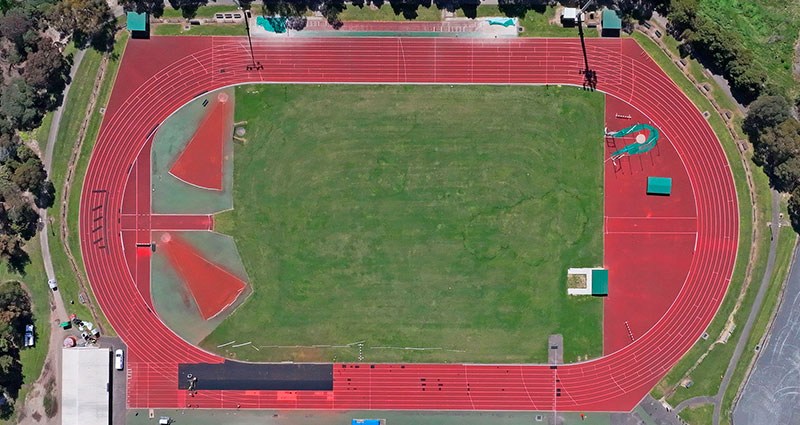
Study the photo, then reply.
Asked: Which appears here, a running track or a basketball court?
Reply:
running track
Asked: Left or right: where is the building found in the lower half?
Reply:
left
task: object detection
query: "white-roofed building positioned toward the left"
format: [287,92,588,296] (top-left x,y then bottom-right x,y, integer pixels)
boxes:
[61,347,112,425]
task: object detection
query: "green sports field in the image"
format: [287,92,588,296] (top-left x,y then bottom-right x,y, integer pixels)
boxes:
[200,83,604,364]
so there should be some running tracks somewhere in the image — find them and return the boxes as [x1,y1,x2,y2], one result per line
[79,36,740,412]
